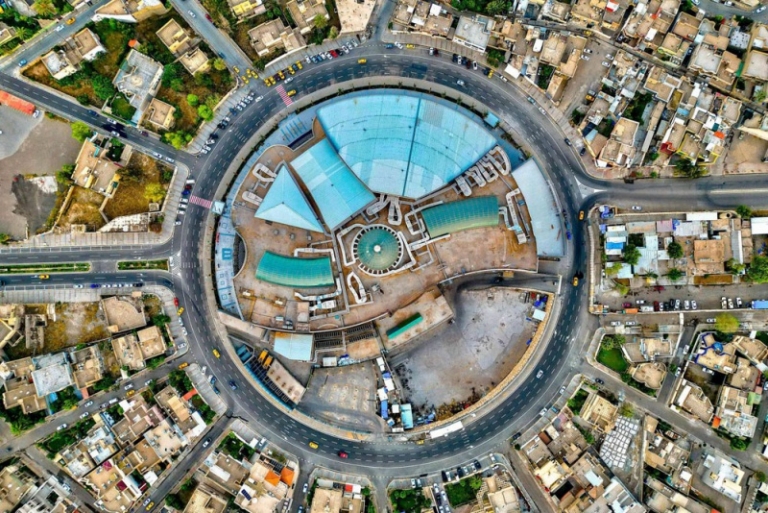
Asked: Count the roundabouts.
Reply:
one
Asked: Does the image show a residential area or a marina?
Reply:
residential area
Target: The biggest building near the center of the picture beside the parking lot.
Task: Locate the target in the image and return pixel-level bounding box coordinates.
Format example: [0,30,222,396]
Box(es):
[232,95,563,332]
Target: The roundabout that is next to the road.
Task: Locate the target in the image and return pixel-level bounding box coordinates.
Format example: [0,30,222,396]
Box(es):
[166,41,604,479]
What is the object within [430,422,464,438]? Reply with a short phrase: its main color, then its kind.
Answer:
white vehicle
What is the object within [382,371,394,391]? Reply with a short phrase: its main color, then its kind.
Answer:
white vehicle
